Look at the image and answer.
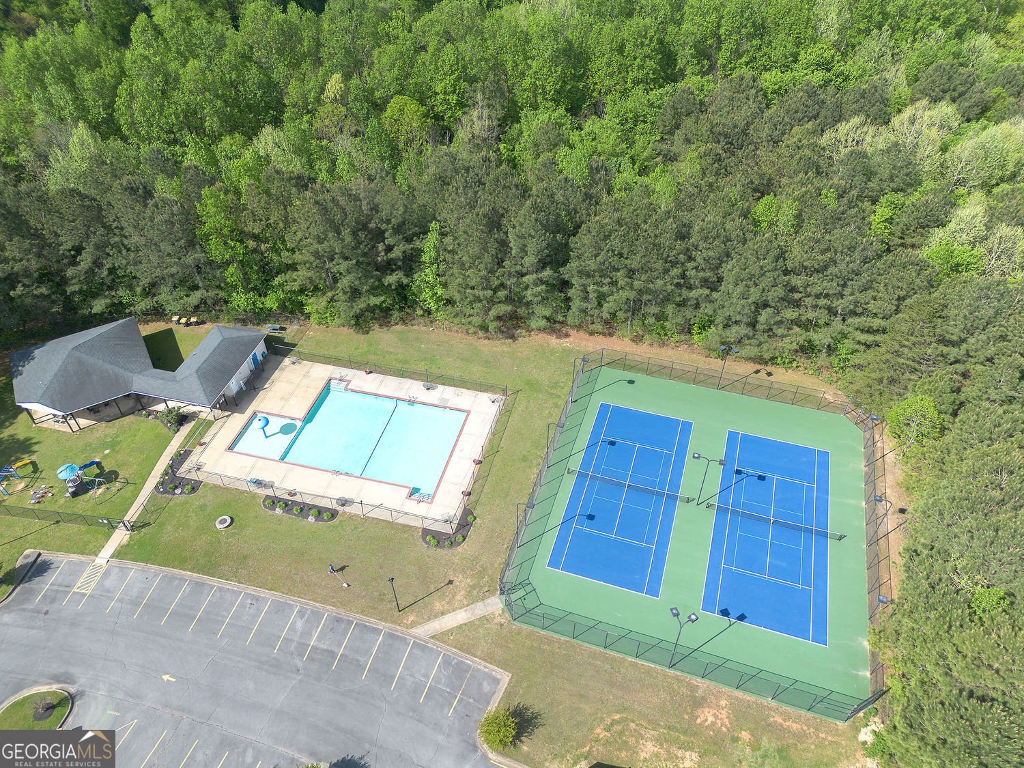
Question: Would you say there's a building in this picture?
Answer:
Yes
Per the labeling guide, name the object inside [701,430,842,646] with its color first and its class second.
blue tennis court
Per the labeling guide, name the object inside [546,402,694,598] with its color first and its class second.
blue tennis court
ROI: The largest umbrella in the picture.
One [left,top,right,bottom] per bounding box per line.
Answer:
[252,416,270,440]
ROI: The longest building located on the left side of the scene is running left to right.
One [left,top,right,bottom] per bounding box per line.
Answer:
[12,316,269,433]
